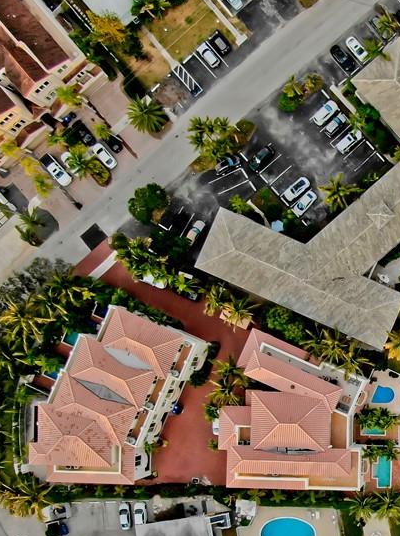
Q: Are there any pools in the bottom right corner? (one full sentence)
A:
Yes, looking in the bottom right corner, one can make out a pool.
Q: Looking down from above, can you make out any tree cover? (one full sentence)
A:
Yes, tree cover can be seen from above here.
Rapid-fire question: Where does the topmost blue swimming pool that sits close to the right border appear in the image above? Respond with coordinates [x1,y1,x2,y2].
[370,383,397,405]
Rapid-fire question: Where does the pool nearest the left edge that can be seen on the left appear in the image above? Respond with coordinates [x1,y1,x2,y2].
[40,366,62,386]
